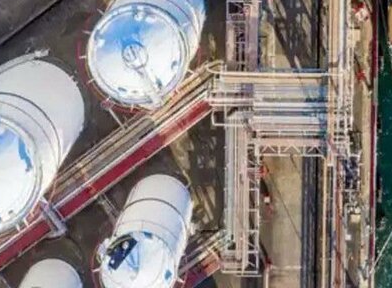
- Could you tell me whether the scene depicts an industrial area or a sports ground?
industrial area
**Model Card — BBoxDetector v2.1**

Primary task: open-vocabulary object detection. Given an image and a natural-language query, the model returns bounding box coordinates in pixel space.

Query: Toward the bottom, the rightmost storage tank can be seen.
[93,172,196,288]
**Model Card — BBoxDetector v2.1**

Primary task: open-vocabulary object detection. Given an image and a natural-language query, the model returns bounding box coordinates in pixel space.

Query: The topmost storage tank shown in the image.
[78,0,207,114]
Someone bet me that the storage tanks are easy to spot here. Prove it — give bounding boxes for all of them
[78,0,207,114]
[93,172,196,288]
[19,258,86,288]
[0,55,85,239]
